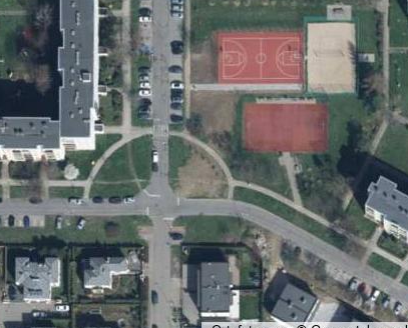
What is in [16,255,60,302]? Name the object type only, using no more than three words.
house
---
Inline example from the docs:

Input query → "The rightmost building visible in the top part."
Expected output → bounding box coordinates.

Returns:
[58,0,103,148]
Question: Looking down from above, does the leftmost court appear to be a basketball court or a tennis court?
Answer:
basketball court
